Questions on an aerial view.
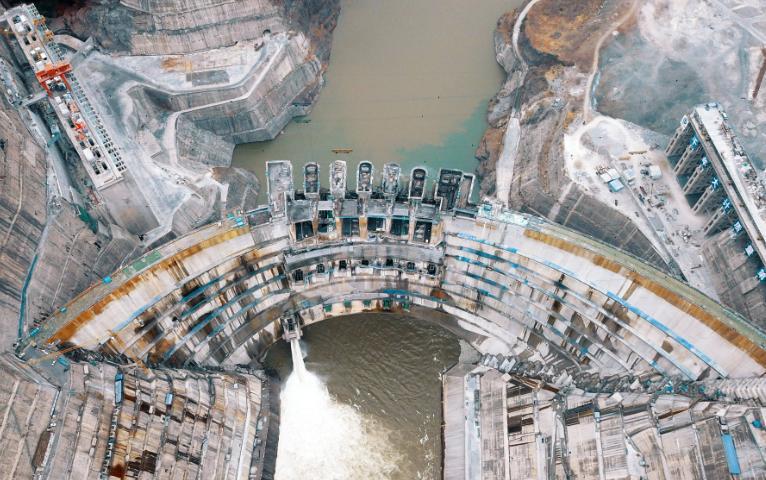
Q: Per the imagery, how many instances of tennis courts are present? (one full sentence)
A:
The photo contains no tennis courts.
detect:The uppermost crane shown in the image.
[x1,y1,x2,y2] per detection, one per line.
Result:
[26,58,75,101]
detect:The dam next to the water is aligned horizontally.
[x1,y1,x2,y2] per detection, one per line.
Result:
[22,160,766,386]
